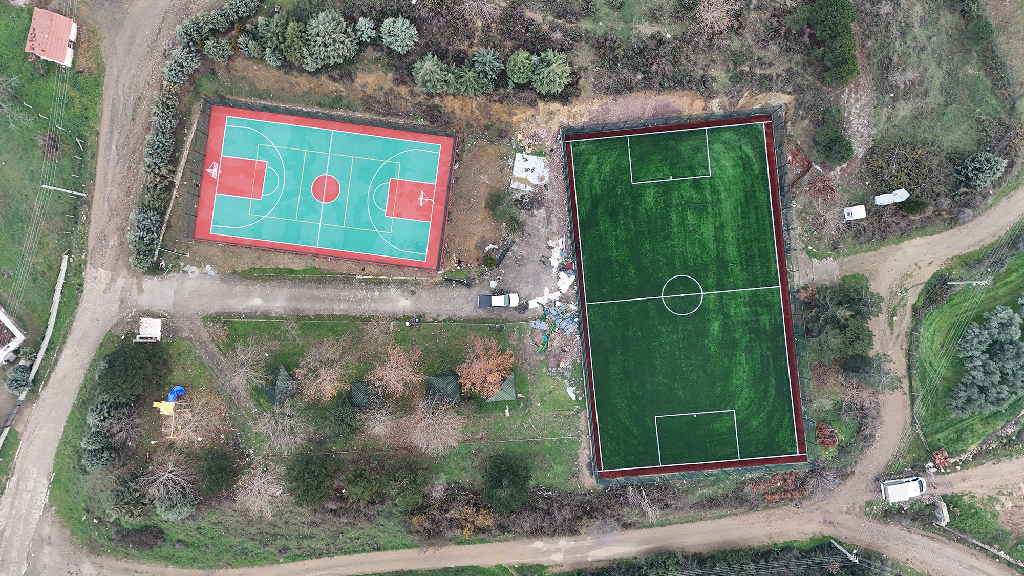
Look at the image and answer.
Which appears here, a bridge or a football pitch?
football pitch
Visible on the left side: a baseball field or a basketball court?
basketball court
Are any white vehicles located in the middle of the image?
Yes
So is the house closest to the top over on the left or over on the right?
left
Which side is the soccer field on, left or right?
right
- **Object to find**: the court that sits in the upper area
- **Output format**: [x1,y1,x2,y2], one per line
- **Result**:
[194,106,456,271]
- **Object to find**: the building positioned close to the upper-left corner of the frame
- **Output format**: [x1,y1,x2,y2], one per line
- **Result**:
[23,7,84,67]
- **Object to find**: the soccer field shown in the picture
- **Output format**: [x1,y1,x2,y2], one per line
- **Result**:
[566,115,806,478]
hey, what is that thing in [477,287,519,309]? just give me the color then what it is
white truck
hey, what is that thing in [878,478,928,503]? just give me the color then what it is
white truck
